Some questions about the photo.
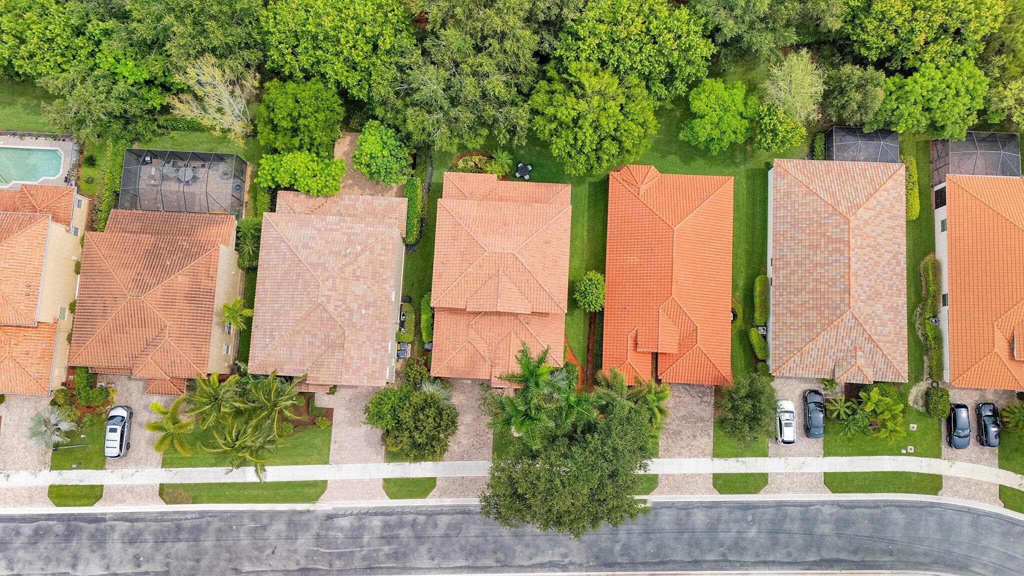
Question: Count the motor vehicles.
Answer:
five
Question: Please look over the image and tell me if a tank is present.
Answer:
No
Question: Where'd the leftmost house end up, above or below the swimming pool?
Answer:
below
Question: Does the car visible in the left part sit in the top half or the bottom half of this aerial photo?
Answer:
bottom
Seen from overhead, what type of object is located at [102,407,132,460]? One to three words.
car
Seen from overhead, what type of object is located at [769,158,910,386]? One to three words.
house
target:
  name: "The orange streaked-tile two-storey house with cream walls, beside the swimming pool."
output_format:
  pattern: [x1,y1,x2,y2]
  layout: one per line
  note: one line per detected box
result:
[0,183,93,396]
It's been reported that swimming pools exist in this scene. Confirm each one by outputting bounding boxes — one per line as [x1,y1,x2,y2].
[0,145,64,187]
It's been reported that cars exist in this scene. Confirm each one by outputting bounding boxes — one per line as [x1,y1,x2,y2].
[974,403,1003,449]
[102,407,132,460]
[945,404,974,450]
[774,401,799,447]
[803,391,826,440]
